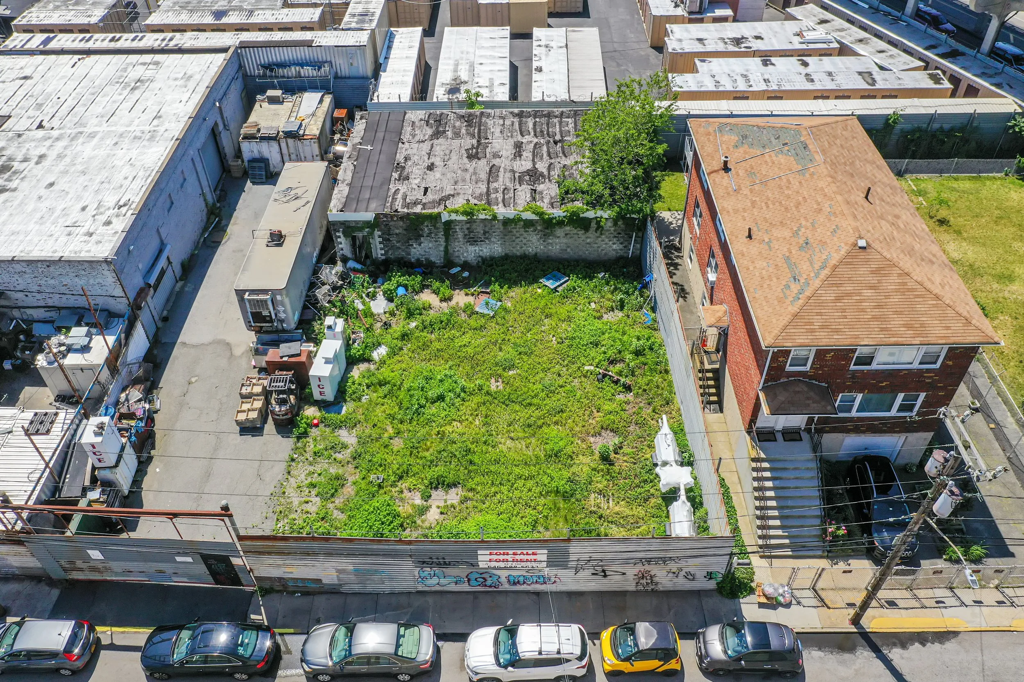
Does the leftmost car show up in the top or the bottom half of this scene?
bottom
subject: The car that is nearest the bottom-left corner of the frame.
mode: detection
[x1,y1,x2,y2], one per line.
[0,617,114,680]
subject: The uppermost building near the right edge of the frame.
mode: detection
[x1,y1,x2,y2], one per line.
[657,115,1008,557]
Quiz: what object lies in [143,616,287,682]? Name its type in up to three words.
car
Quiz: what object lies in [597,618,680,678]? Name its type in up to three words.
car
